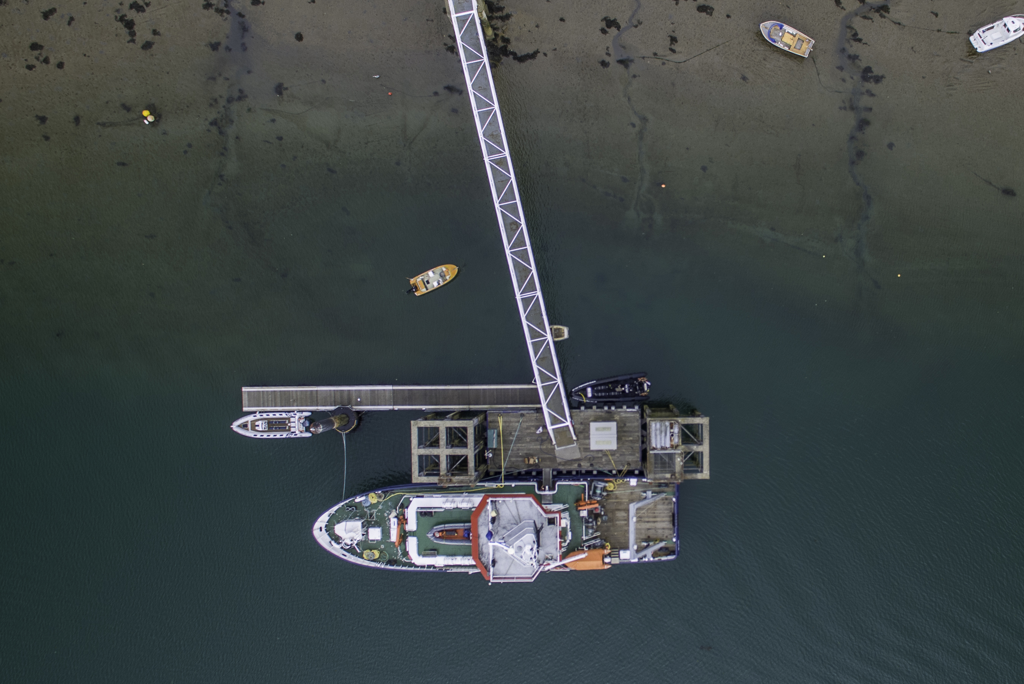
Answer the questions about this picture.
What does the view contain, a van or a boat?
boat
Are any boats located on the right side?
Yes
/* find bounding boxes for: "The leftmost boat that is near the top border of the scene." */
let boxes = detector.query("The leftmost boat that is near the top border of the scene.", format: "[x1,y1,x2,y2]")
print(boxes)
[760,21,814,59]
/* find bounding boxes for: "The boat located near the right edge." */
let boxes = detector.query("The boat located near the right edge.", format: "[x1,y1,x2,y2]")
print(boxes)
[968,14,1024,53]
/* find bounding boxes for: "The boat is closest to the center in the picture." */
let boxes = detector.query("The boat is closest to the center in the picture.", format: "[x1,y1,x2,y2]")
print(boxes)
[549,325,569,341]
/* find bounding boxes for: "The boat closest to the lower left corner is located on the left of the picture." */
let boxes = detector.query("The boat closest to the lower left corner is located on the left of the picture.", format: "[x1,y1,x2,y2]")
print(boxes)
[230,410,311,439]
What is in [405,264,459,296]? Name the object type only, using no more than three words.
boat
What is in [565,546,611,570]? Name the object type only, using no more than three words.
boat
